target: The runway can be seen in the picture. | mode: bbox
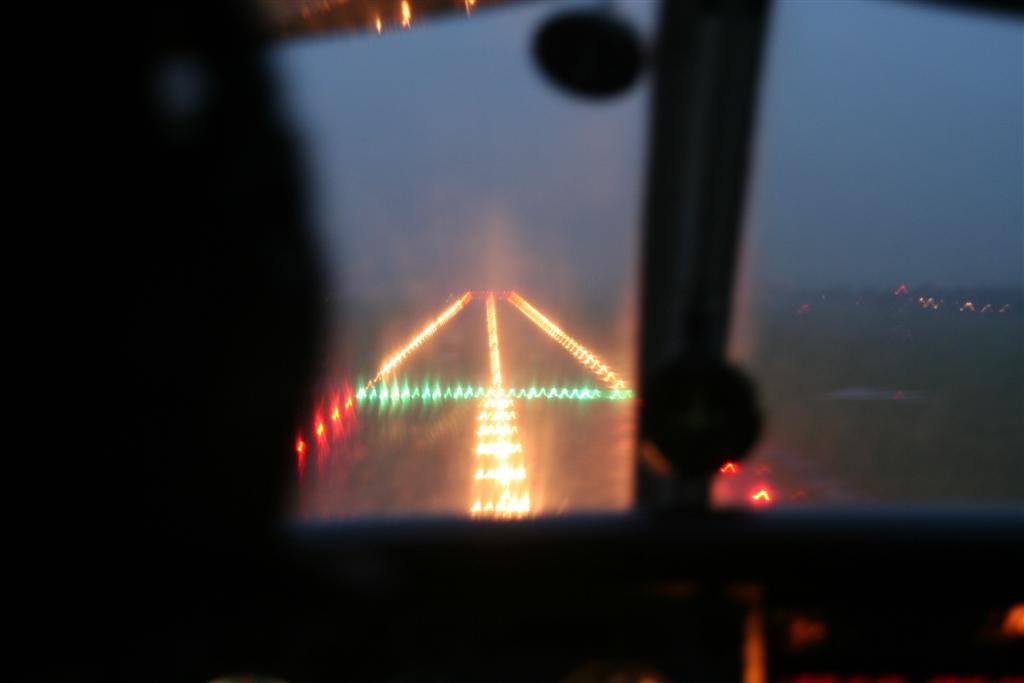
[357,294,634,395]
